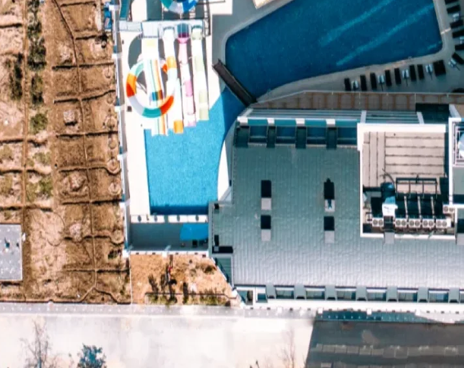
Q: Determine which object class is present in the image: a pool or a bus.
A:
pool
